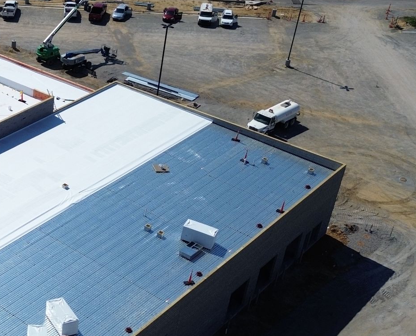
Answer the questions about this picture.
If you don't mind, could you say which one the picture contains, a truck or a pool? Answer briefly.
truck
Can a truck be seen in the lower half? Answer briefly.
No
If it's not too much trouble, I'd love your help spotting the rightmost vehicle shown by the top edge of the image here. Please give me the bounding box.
[212,9,234,28]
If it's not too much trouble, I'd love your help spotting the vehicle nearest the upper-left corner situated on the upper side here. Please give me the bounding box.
[2,0,19,18]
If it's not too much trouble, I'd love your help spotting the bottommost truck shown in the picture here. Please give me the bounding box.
[244,96,306,137]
